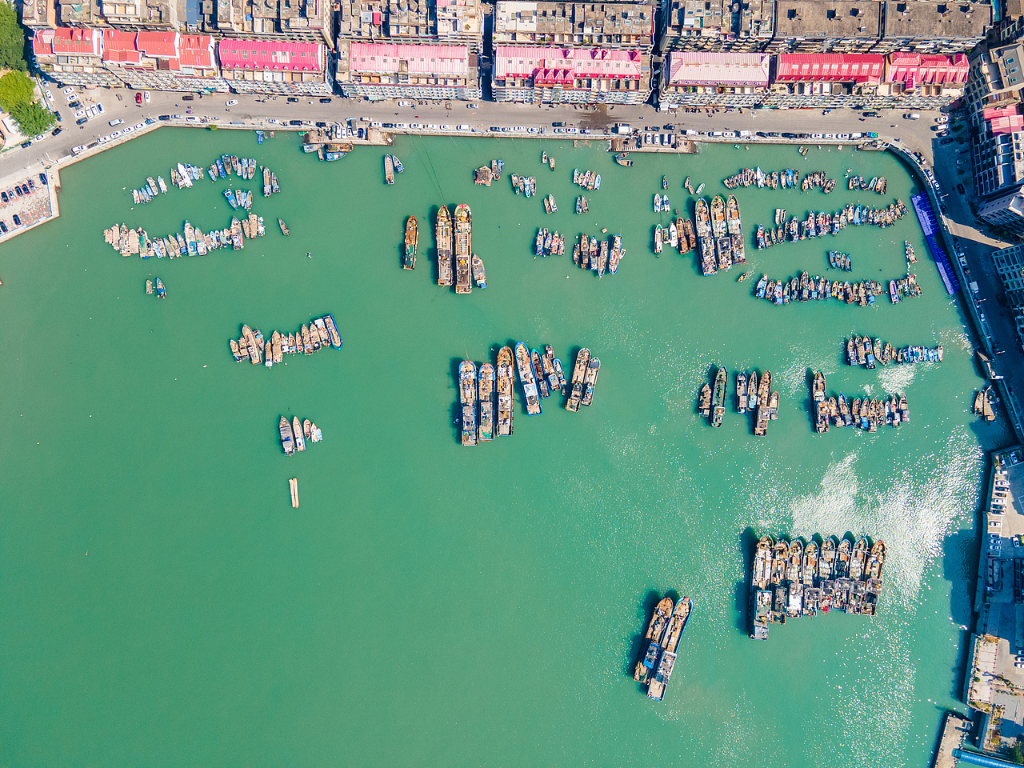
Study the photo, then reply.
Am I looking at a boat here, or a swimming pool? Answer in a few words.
boat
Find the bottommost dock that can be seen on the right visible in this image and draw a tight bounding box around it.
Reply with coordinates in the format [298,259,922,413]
[930,714,970,768]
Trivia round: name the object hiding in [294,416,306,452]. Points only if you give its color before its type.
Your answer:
white boat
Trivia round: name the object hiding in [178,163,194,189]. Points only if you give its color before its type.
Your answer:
white boat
